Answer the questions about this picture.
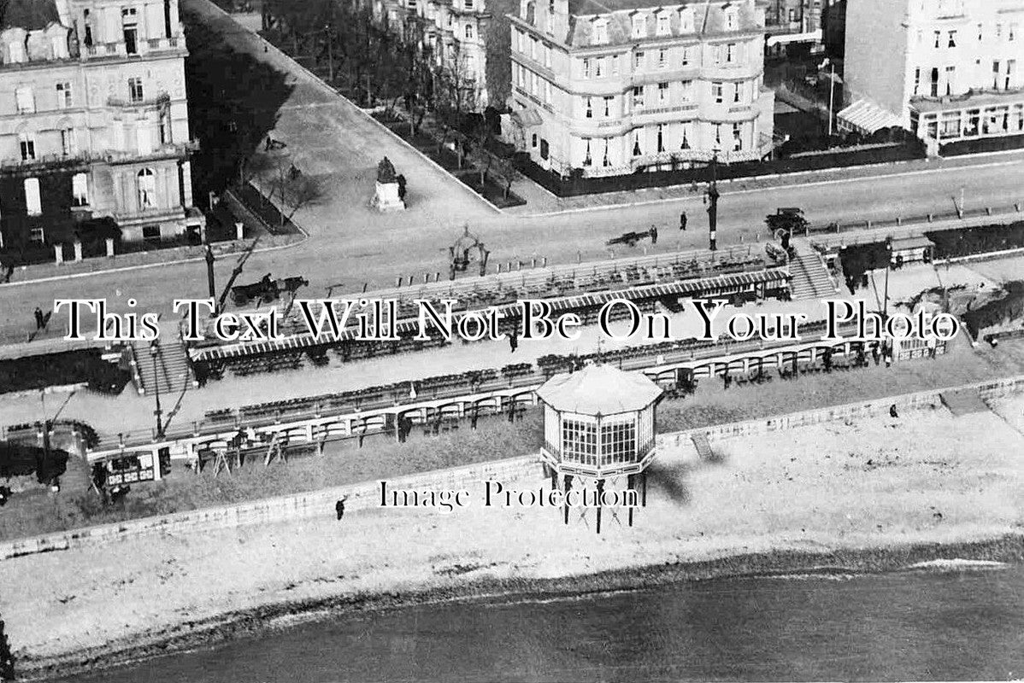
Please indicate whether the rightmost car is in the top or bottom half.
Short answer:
top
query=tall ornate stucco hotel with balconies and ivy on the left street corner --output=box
[0,0,213,253]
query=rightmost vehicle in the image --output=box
[758,209,805,237]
